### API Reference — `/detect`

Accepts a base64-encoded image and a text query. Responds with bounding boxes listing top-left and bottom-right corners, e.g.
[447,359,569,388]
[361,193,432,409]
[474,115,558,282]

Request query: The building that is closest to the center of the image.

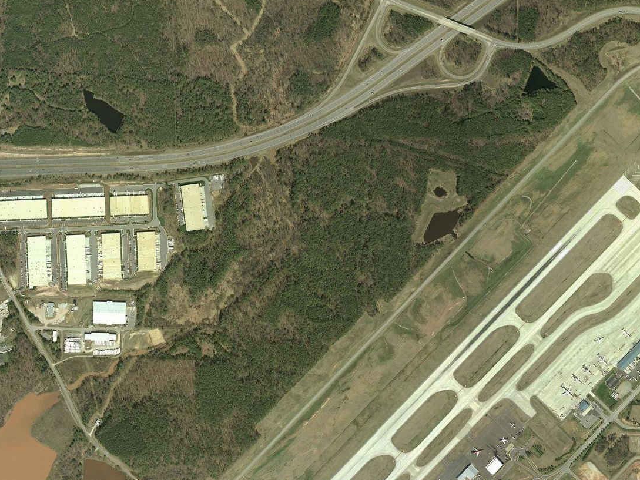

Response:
[181,183,205,231]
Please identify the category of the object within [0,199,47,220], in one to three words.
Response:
building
